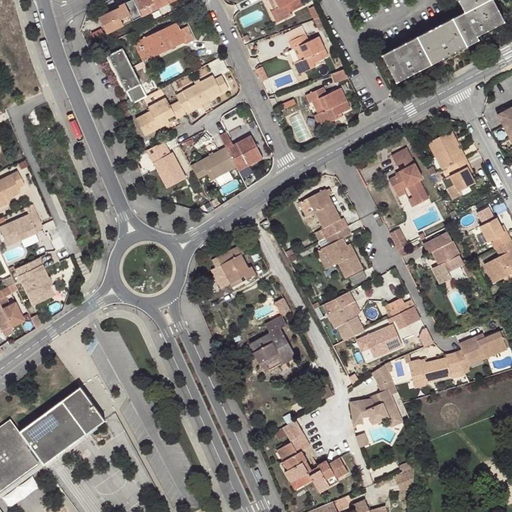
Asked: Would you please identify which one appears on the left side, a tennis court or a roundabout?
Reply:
roundabout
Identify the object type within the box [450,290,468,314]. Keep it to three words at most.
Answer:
swimming pool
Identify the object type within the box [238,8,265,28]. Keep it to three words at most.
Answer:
swimming pool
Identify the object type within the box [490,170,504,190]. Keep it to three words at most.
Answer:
vehicle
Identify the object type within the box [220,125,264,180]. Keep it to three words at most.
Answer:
house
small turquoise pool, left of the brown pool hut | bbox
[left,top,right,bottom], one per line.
[254,303,276,320]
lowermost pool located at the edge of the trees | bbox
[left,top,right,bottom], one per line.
[368,425,397,444]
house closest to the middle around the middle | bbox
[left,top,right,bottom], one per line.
[212,247,256,290]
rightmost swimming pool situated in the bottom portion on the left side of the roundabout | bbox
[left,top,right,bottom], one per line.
[48,301,64,315]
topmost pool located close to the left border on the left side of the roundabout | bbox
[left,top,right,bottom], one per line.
[4,246,25,263]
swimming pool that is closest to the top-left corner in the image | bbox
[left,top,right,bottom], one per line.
[160,60,184,83]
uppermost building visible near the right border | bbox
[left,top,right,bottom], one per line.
[384,0,506,84]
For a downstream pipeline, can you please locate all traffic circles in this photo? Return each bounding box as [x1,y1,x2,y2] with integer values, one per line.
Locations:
[108,230,188,310]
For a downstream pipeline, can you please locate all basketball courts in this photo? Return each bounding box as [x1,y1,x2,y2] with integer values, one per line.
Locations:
[95,471,147,512]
